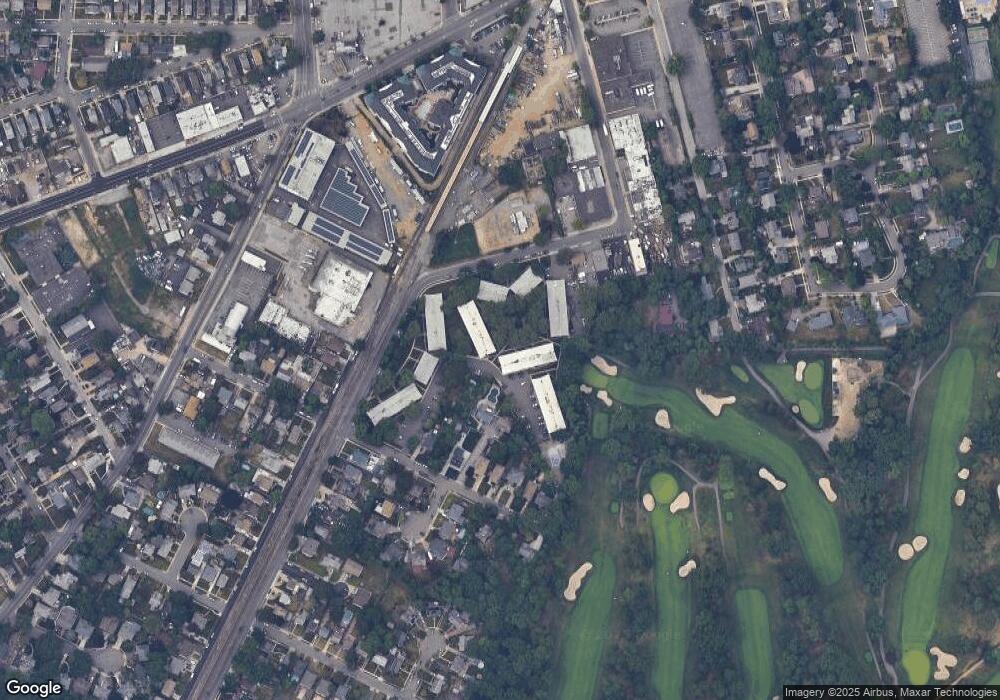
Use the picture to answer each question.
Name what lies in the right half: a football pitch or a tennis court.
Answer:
tennis court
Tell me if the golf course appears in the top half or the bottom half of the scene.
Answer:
bottom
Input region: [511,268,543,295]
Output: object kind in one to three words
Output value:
building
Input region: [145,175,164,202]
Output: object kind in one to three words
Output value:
house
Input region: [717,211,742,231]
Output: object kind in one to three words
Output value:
house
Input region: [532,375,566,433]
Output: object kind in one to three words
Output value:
building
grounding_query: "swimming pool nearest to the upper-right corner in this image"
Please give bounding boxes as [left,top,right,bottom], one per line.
[946,121,964,134]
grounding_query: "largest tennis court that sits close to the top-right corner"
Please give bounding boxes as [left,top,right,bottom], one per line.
[969,41,993,81]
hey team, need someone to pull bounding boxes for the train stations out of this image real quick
[425,45,521,232]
